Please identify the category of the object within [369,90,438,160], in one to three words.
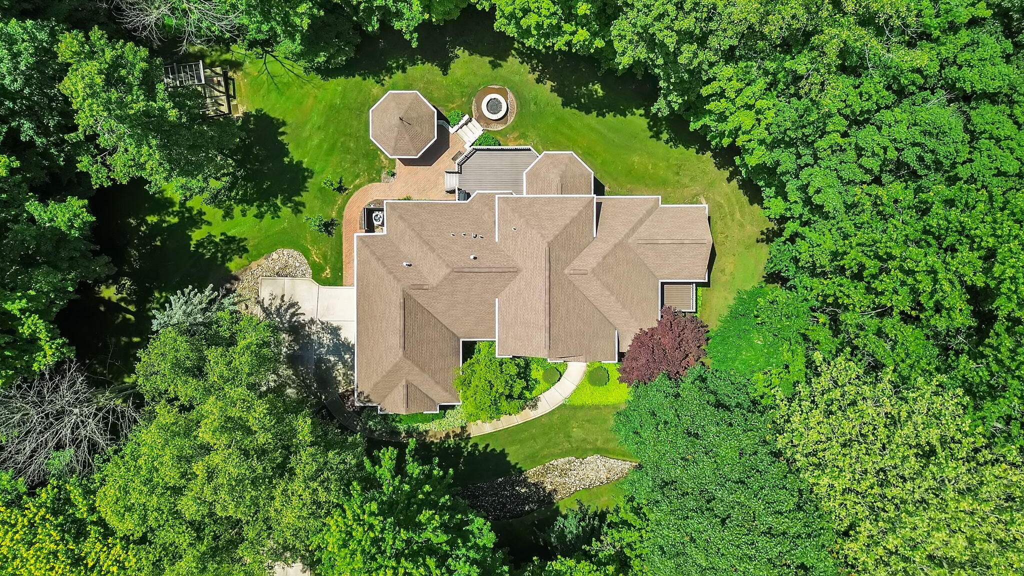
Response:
gazebo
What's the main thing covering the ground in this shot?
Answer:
trees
